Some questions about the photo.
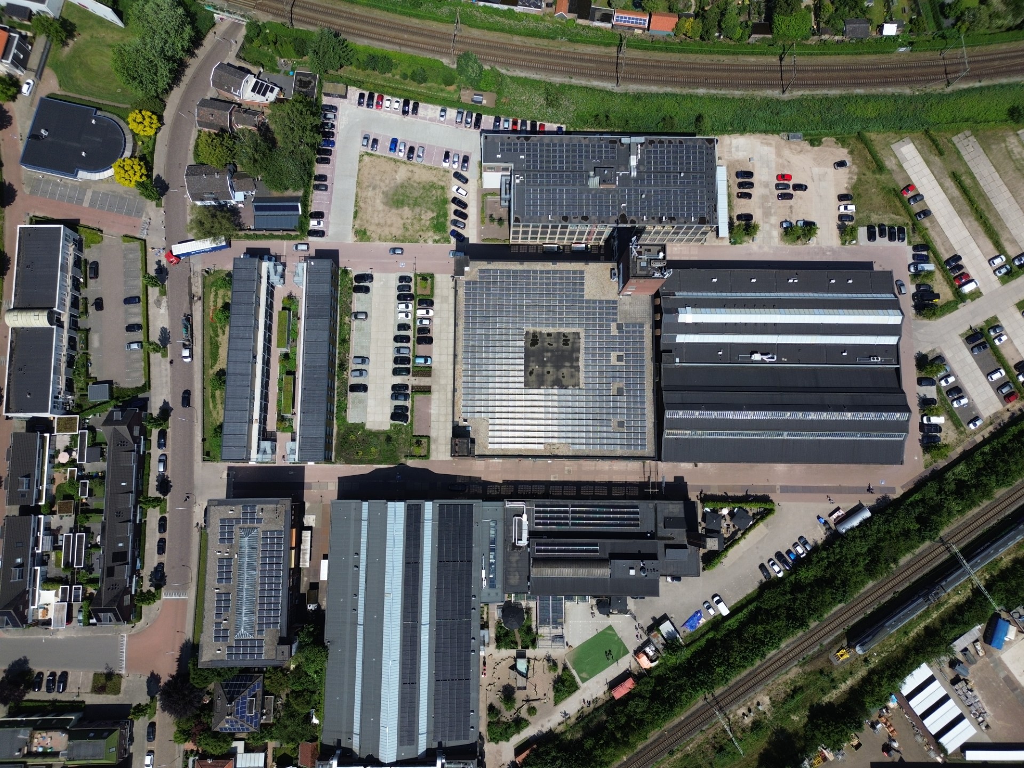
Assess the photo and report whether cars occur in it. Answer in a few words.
Yes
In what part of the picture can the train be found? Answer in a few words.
bottom right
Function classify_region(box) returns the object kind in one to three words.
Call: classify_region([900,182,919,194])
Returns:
vehicle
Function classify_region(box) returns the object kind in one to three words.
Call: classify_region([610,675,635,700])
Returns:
shed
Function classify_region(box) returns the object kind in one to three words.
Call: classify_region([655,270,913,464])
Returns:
building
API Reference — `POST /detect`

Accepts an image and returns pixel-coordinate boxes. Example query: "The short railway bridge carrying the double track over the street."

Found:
[204,0,270,27]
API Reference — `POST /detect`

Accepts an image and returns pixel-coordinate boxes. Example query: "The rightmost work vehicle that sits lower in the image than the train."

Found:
[876,737,894,757]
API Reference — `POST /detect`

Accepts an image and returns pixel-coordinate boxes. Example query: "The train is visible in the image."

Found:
[854,517,1024,649]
